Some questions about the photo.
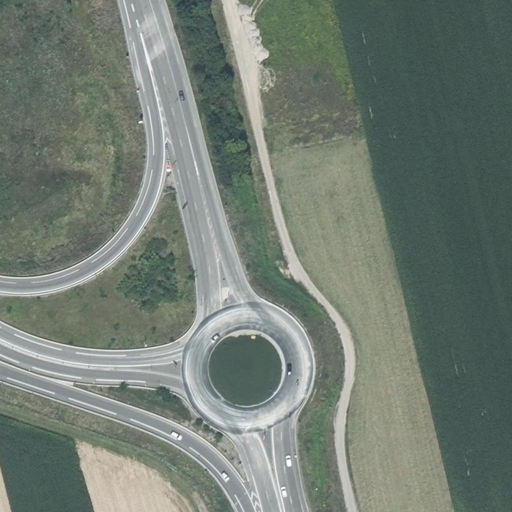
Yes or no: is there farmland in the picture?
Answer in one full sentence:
Yes, there's farmland in this view.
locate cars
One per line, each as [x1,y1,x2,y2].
[211,332,220,342]
[178,90,184,101]
[281,486,287,498]
[220,472,230,482]
[286,364,292,375]
[286,456,292,468]
[170,431,182,440]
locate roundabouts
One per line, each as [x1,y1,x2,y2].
[182,300,314,434]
